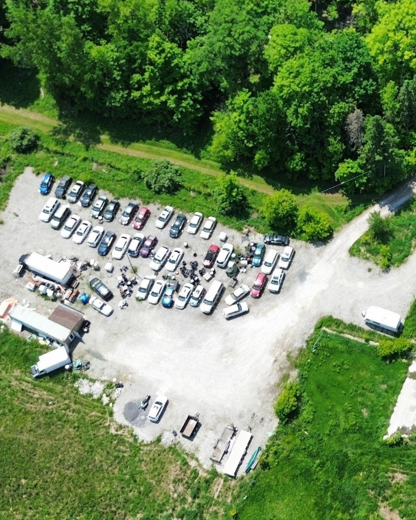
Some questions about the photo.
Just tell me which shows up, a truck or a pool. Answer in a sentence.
Of the two, only a truck appears.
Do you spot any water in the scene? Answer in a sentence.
No, no water is visible.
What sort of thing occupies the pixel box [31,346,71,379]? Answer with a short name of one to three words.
truck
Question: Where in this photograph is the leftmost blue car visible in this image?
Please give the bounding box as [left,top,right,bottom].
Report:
[39,175,53,195]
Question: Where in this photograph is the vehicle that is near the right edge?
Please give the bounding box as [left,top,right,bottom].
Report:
[360,306,401,333]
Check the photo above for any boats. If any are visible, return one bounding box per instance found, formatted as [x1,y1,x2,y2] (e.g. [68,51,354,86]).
[247,448,260,473]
